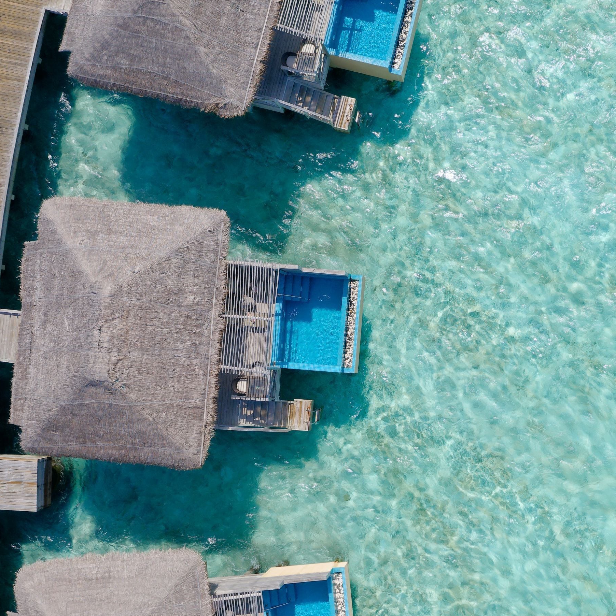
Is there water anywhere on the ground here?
Yes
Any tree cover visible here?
No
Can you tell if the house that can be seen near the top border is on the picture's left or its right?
left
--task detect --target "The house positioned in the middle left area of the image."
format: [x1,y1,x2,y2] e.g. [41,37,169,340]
[10,195,239,470]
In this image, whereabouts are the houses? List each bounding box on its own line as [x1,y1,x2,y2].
[10,195,239,470]
[57,0,283,127]
[6,544,217,616]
